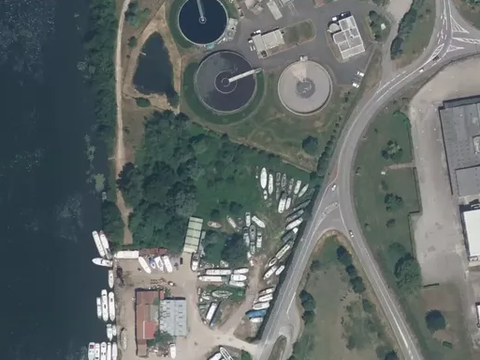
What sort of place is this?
industrial area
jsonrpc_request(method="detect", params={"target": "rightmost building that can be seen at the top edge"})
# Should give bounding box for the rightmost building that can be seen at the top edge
[334,15,366,58]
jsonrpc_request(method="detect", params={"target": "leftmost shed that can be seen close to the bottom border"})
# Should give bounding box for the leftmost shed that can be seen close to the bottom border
[136,290,159,357]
